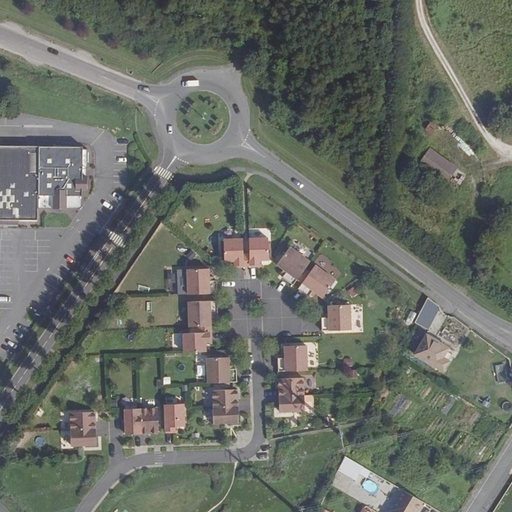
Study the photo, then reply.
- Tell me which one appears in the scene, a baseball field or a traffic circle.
traffic circle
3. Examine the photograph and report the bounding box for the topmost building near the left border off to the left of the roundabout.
[0,146,88,225]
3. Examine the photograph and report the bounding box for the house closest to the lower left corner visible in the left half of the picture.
[60,412,102,450]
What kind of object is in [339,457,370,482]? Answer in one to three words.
building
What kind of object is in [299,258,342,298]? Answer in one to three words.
house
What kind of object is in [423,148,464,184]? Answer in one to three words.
barn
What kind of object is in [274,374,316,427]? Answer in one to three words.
house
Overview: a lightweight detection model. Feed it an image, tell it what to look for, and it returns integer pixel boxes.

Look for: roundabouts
[138,66,258,173]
